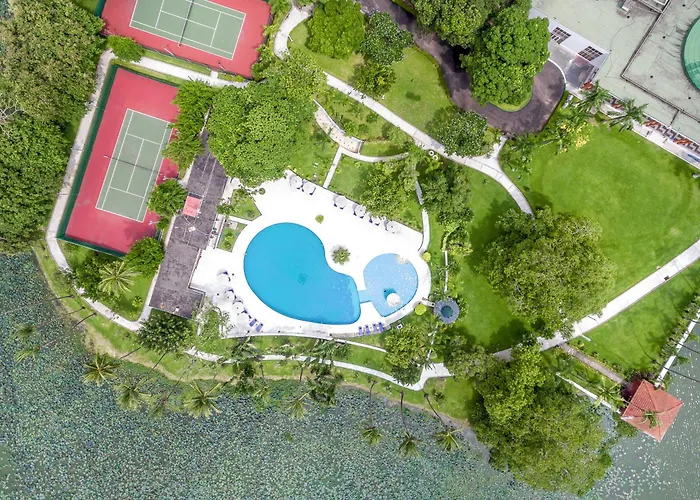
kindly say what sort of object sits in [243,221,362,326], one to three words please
swimming pool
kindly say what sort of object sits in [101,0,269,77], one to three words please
tennis court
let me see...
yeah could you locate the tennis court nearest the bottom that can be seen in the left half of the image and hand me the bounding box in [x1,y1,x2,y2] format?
[65,68,200,256]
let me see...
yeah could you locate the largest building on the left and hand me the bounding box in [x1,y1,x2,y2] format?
[149,129,229,319]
